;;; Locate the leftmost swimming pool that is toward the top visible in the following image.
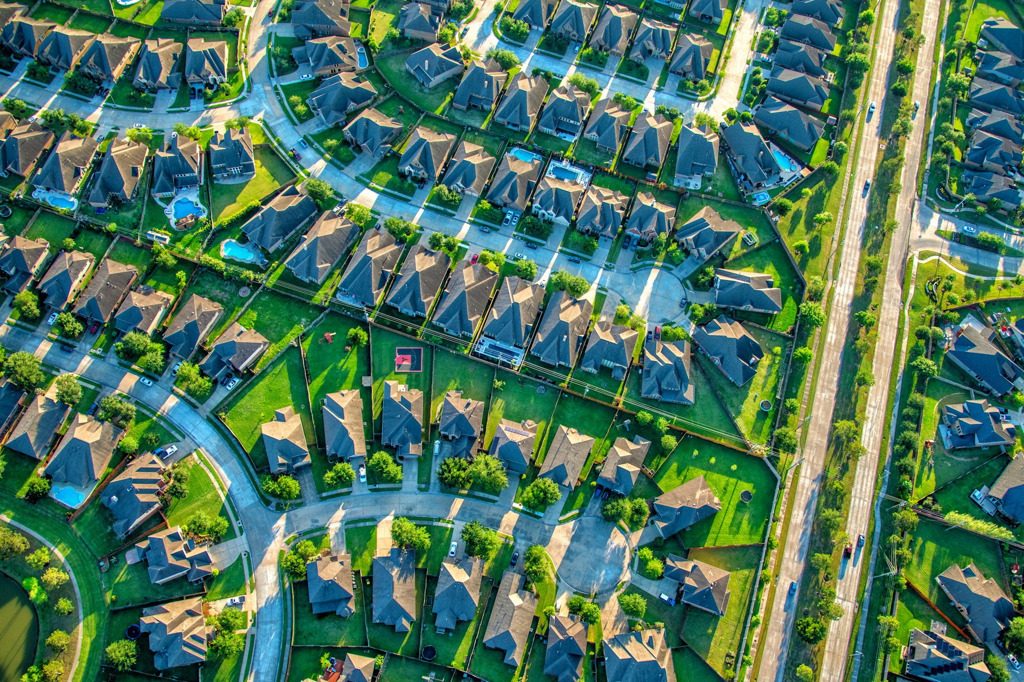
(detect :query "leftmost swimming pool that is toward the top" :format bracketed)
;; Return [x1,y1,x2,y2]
[32,188,79,211]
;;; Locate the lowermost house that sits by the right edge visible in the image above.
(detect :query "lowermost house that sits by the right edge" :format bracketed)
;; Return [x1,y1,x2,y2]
[908,622,991,682]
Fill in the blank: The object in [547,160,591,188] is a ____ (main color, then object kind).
blue swimming pool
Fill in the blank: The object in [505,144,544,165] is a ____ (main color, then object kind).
blue swimming pool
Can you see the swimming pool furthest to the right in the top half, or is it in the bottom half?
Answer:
top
